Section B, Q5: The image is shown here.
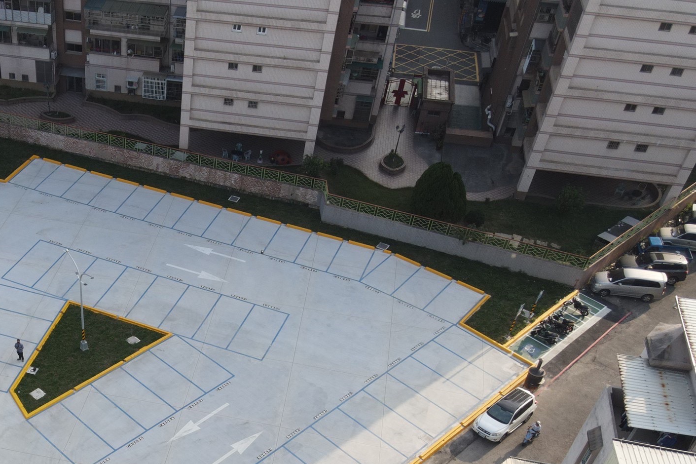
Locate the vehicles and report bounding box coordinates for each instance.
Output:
[548,310,574,333]
[648,223,696,257]
[615,251,689,287]
[624,237,695,272]
[542,315,567,339]
[469,389,538,446]
[532,324,557,347]
[563,295,589,318]
[587,268,661,307]
[673,202,696,225]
